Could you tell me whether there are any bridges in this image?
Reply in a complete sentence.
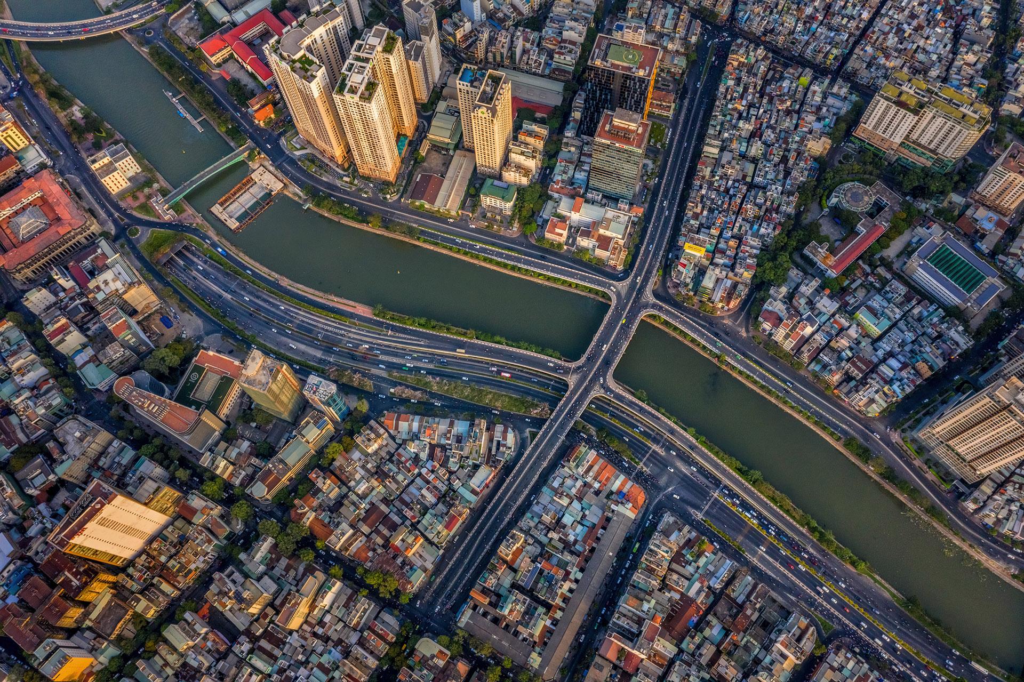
Yes, I can see a bridge in this picture.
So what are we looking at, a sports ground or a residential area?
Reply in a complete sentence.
What you see here is a residential area.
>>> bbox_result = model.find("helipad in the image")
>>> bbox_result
[607,44,642,67]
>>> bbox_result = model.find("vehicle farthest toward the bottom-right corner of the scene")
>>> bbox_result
[968,659,997,678]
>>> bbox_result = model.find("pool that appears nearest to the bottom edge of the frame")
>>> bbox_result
[396,132,411,166]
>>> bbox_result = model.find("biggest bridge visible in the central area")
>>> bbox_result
[372,95,845,612]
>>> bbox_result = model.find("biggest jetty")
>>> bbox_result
[161,89,205,133]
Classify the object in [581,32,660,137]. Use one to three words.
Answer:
building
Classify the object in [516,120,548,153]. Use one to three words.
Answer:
house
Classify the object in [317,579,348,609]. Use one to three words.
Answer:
house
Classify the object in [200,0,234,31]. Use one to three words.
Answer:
shed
